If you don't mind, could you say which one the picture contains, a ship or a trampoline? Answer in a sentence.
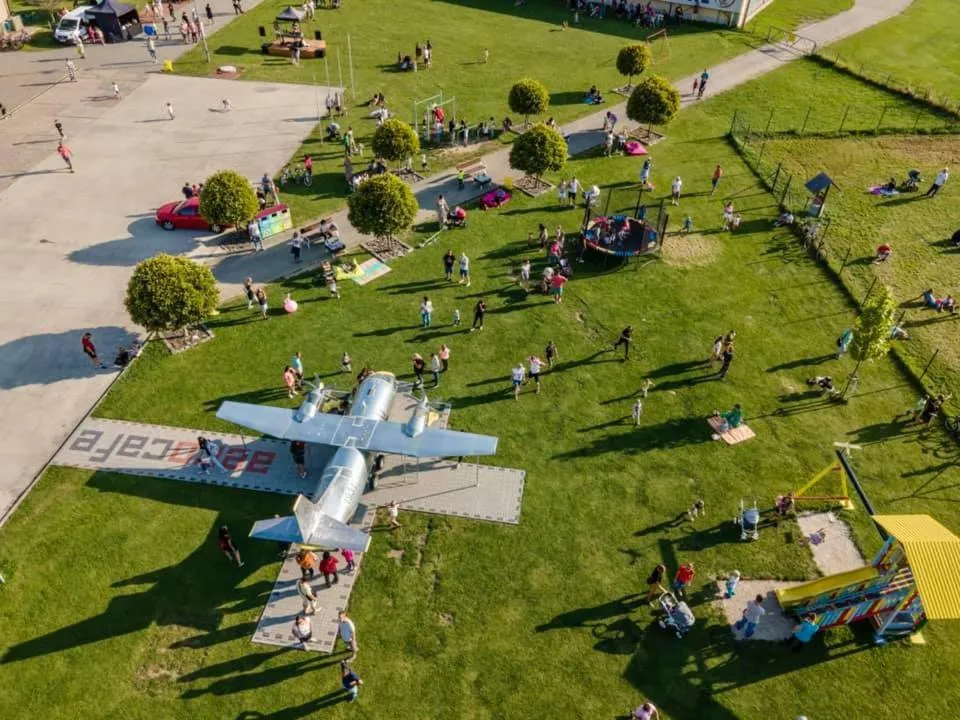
Looking from above, you can make out a trampoline.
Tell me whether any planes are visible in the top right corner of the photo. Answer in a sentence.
No, in the top right corner of the photo there is no plane.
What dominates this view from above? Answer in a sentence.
The scene is dominated by grass.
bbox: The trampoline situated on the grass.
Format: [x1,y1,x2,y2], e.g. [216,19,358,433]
[580,184,666,269]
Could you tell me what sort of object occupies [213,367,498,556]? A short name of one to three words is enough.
airplane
